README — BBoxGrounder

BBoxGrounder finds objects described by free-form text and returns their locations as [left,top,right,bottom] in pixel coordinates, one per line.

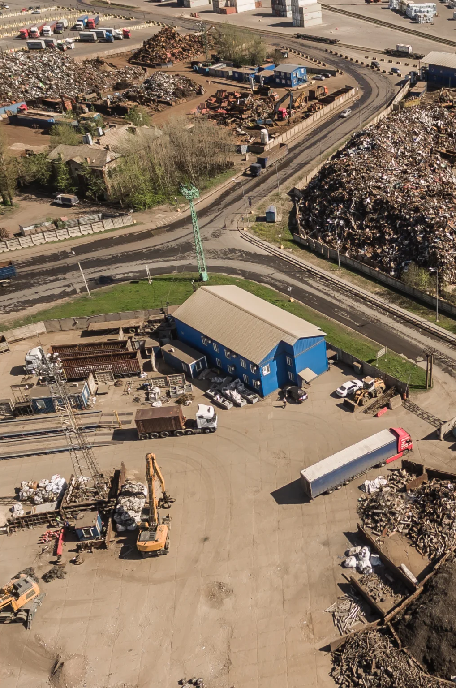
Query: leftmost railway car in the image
[291,31,341,44]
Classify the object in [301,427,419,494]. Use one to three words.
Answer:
truck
